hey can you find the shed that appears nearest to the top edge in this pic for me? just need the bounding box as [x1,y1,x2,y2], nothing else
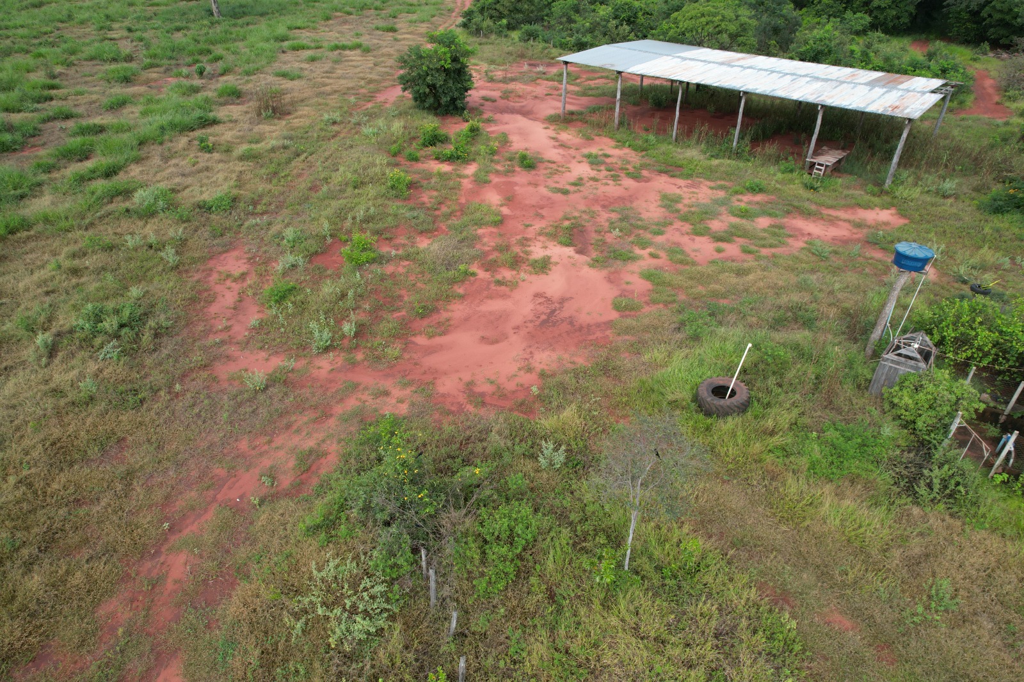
[556,39,959,185]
